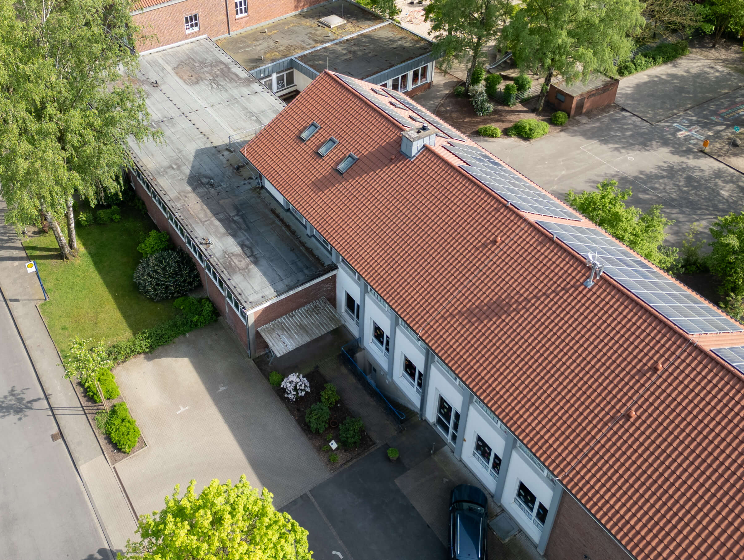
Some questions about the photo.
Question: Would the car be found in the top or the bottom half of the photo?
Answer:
bottom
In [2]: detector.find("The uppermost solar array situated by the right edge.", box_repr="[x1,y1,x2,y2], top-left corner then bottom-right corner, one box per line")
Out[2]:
[541,221,741,333]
